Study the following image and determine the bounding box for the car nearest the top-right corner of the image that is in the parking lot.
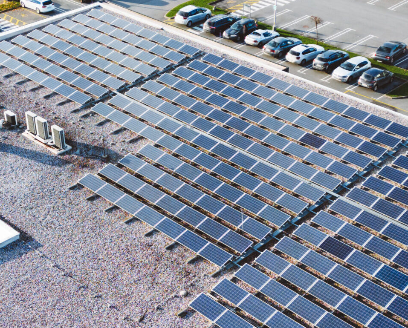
[376,39,408,62]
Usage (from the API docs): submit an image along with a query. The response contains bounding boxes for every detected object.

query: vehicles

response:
[334,54,374,80]
[180,4,214,24]
[247,27,283,46]
[226,16,262,39]
[205,13,244,33]
[376,39,408,62]
[290,42,327,63]
[361,65,399,88]
[265,34,306,55]
[314,46,355,70]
